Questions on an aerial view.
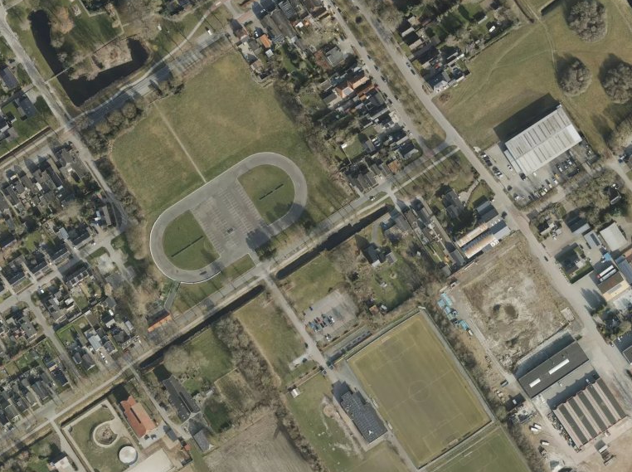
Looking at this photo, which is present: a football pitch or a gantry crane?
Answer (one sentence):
It is a football pitch that can be seen here.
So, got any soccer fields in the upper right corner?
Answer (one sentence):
No, no soccer field can be made out in the upper right corner.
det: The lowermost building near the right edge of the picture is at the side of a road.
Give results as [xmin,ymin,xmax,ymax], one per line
[555,378,629,450]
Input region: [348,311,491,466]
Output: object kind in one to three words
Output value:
soccer field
